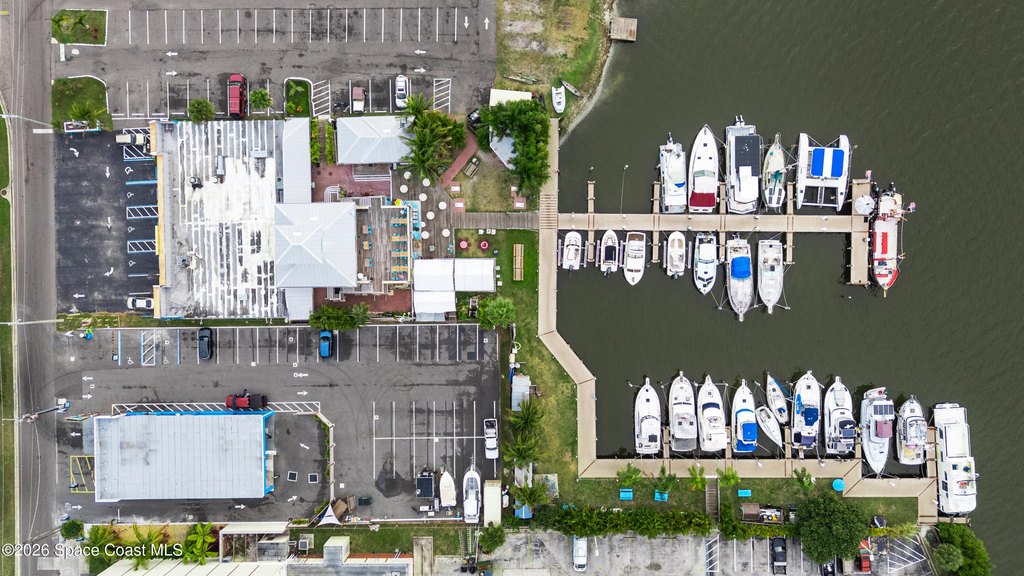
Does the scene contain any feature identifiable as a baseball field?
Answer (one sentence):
No, I can't see a single baseball field in this photo.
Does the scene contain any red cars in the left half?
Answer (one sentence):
Yes, you'll find a red car in the left half.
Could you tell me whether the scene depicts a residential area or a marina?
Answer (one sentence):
What you see here is a marina.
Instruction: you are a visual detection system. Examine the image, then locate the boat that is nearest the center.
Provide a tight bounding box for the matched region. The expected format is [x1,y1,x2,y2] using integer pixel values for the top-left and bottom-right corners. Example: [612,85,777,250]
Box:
[562,231,581,274]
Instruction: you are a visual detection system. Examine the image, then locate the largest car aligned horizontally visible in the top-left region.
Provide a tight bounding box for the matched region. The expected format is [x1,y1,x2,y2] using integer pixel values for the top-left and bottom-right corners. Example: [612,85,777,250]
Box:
[111,131,145,145]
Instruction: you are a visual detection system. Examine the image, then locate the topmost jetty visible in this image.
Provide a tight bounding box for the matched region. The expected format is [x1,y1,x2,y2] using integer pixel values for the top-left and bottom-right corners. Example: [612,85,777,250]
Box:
[604,18,637,43]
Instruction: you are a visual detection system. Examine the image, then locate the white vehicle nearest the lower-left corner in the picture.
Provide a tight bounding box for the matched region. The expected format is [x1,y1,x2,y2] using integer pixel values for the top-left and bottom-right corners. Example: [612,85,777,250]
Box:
[126,295,154,310]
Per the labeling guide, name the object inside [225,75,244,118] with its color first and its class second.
red car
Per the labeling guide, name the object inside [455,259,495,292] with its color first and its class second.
white tent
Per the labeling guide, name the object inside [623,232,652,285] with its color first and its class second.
white boat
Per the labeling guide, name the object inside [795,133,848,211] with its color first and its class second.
white boat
